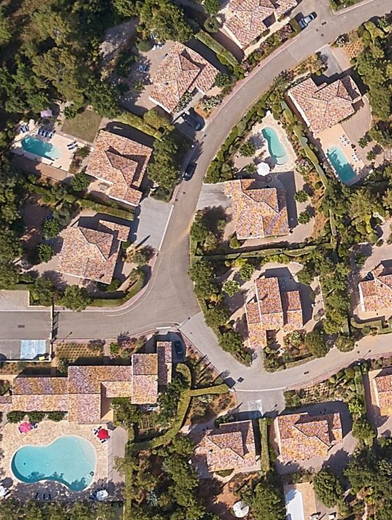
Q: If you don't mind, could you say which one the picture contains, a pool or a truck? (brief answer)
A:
pool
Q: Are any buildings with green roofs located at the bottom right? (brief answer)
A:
No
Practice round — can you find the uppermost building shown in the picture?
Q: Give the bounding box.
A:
[220,0,300,42]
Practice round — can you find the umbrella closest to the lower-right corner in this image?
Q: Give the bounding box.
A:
[232,500,249,517]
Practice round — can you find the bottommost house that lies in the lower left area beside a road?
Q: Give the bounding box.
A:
[0,340,173,422]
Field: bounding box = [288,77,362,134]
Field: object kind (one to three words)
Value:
house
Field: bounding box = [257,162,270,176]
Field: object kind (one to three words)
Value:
umbrella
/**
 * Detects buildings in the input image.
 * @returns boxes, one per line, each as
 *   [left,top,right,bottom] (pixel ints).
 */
[220,0,300,42]
[246,280,303,347]
[357,268,392,311]
[149,42,219,103]
[227,181,290,239]
[58,223,124,285]
[277,412,340,463]
[203,419,257,471]
[288,77,362,134]
[85,130,153,207]
[0,340,173,422]
[374,371,392,414]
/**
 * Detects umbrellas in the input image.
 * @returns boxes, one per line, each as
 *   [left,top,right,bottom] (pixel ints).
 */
[96,427,109,439]
[257,162,270,176]
[95,488,108,501]
[18,419,32,433]
[232,500,249,517]
[0,483,7,497]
